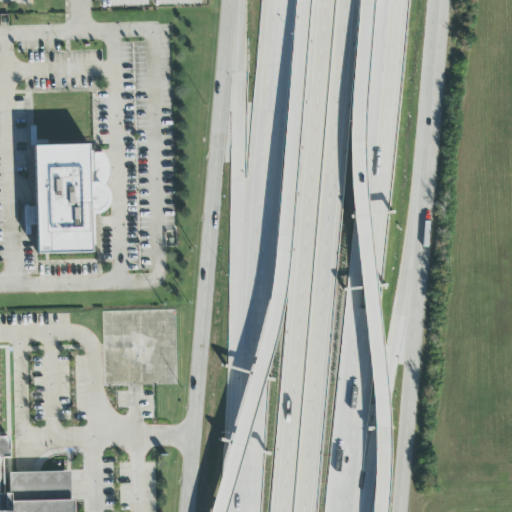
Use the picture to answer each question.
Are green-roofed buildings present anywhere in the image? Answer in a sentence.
No, I can see no green-roofed building in this picture.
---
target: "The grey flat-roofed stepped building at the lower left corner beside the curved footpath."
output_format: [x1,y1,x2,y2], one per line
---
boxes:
[0,470,76,512]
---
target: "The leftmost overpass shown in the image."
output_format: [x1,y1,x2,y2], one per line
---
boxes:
[212,0,311,512]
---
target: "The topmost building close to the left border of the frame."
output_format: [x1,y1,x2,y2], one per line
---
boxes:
[25,125,113,252]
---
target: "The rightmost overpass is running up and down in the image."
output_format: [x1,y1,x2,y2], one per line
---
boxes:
[344,0,396,512]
